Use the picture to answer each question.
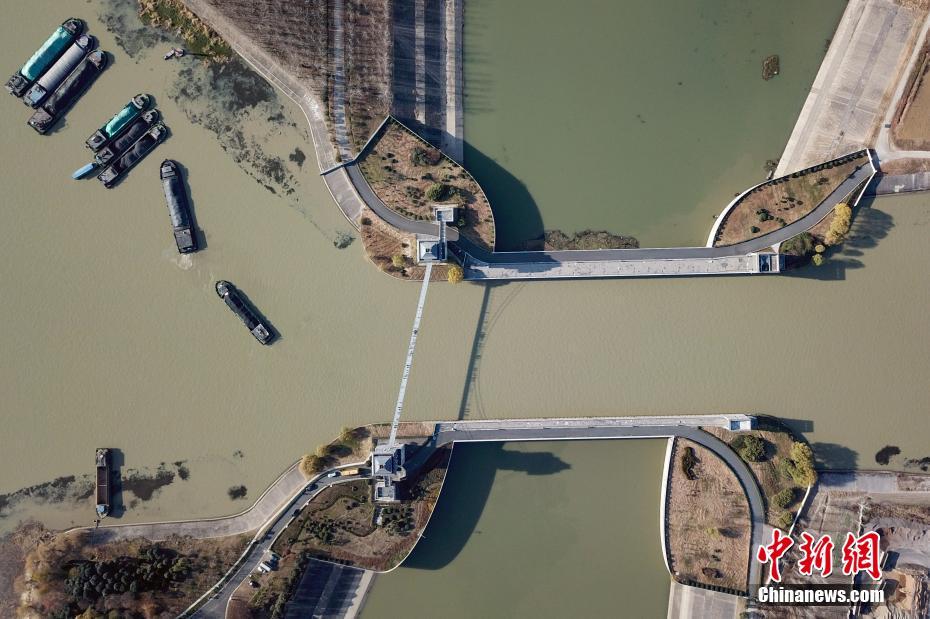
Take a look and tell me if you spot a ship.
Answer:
Yes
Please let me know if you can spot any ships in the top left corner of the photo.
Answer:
Yes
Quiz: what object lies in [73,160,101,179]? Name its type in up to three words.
boat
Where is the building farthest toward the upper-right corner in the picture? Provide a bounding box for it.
[746,254,781,273]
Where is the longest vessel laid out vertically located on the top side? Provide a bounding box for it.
[161,158,196,254]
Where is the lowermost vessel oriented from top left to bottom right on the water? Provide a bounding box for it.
[216,280,273,347]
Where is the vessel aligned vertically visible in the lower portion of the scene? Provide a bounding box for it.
[96,447,112,517]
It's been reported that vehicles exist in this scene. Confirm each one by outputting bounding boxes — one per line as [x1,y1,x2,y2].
[257,567,265,575]
[882,123,894,129]
[327,472,338,477]
[249,580,258,587]
[269,554,280,562]
[307,485,316,492]
[340,467,360,475]
[259,562,272,572]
